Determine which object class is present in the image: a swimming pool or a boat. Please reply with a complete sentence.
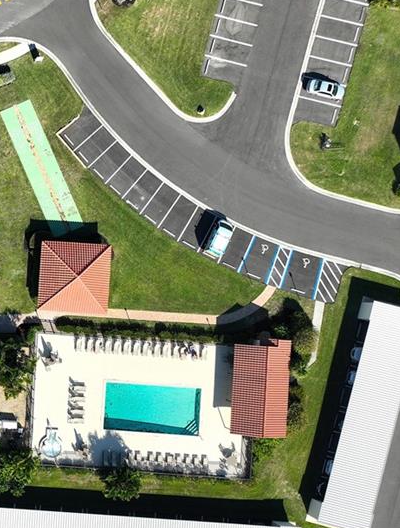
Of the two, only a swimming pool appears.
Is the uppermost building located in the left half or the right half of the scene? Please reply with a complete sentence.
The uppermost building is on the left side of the image.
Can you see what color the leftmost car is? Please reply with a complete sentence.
The leftmost car looks white in the image.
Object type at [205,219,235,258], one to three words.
car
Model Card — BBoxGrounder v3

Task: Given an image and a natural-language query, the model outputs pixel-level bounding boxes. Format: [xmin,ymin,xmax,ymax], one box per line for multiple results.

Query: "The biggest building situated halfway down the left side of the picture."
[36,240,112,315]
